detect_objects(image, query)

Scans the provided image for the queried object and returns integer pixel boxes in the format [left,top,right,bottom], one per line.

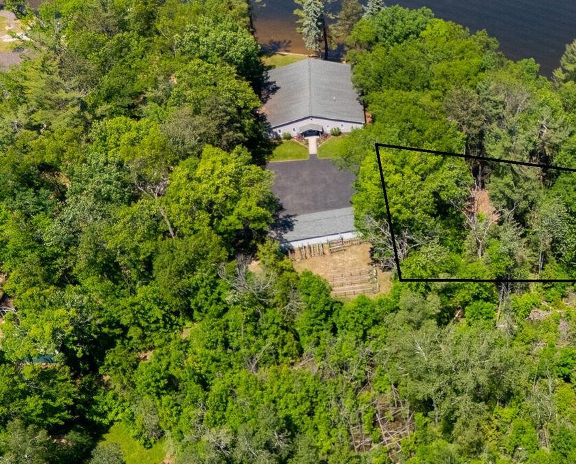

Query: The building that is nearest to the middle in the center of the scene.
[278,207,367,252]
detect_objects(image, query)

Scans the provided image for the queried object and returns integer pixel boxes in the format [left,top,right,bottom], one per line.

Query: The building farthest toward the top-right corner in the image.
[271,60,369,143]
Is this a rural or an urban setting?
rural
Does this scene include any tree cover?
Yes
